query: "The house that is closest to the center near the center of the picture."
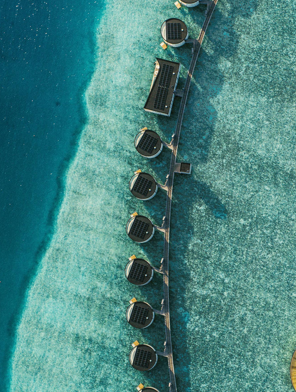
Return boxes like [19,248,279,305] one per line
[130,167,158,199]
